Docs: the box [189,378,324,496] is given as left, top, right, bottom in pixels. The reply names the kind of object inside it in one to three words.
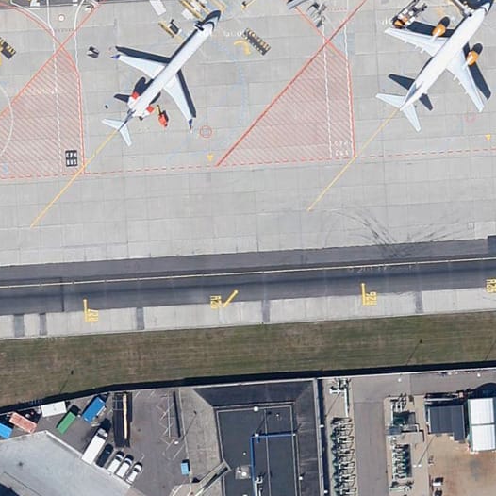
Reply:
warehouse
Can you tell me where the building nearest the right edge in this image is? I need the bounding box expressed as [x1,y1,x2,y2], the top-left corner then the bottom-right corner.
[466,396,496,450]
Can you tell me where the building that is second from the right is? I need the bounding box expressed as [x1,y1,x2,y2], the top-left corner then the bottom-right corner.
[426,404,466,442]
